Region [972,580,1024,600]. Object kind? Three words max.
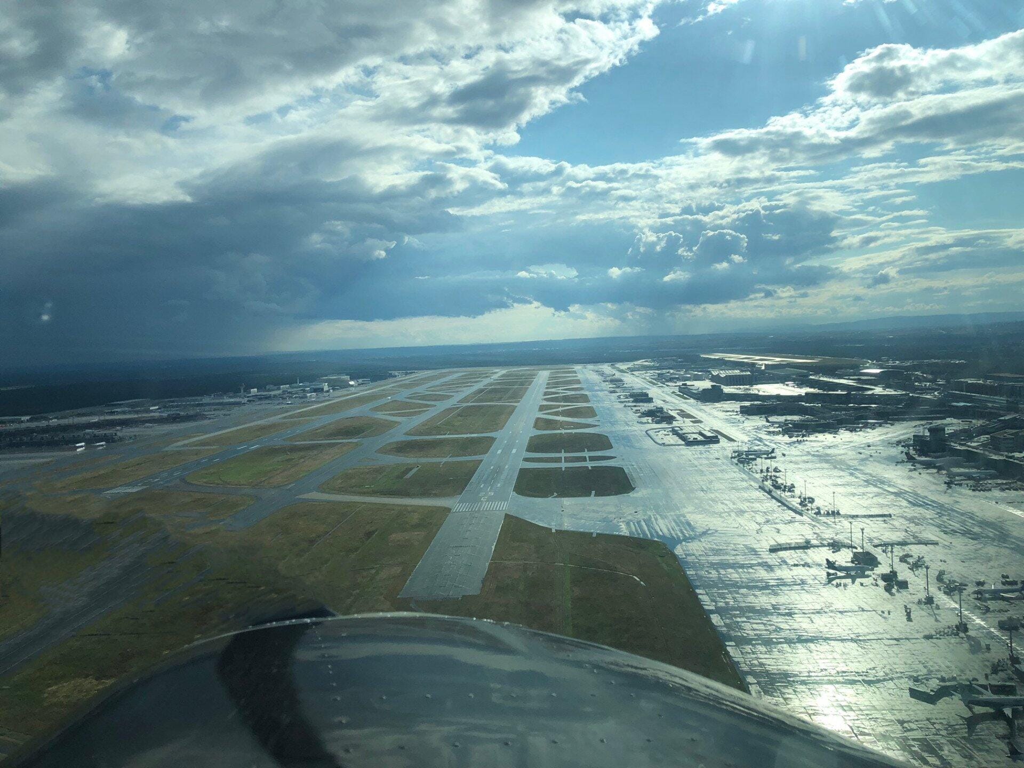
airplane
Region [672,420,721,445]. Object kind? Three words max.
building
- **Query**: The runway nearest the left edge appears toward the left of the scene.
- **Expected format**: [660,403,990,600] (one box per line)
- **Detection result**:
[93,371,466,498]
